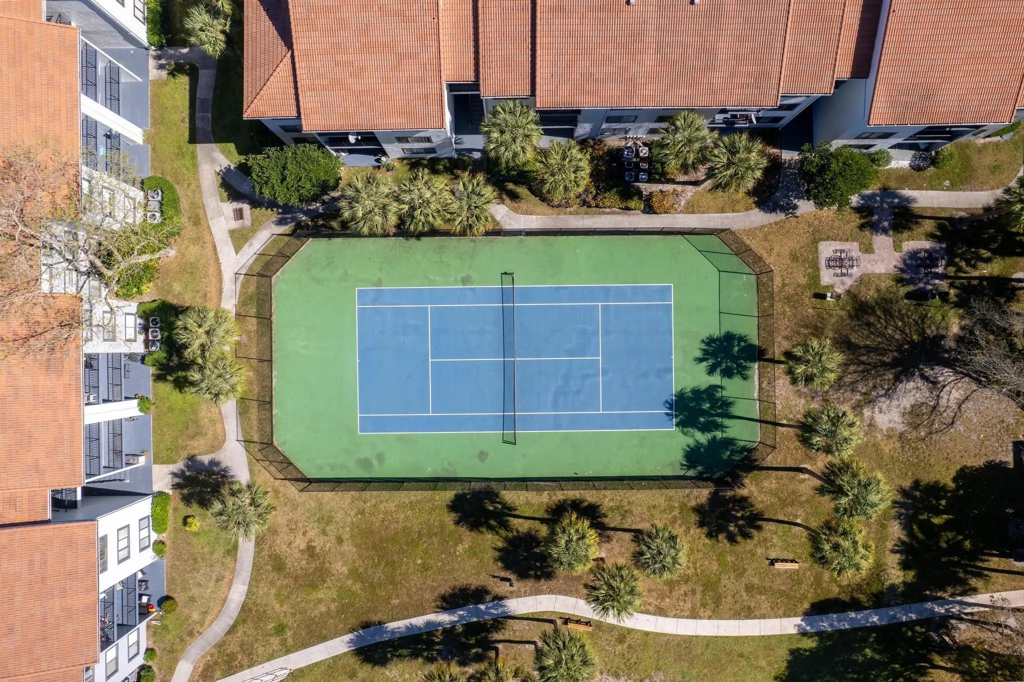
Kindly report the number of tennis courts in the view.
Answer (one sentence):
I count 1 tennis court.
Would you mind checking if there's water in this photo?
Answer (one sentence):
No, the picture contains no water.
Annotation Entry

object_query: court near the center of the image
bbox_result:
[271,234,761,480]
